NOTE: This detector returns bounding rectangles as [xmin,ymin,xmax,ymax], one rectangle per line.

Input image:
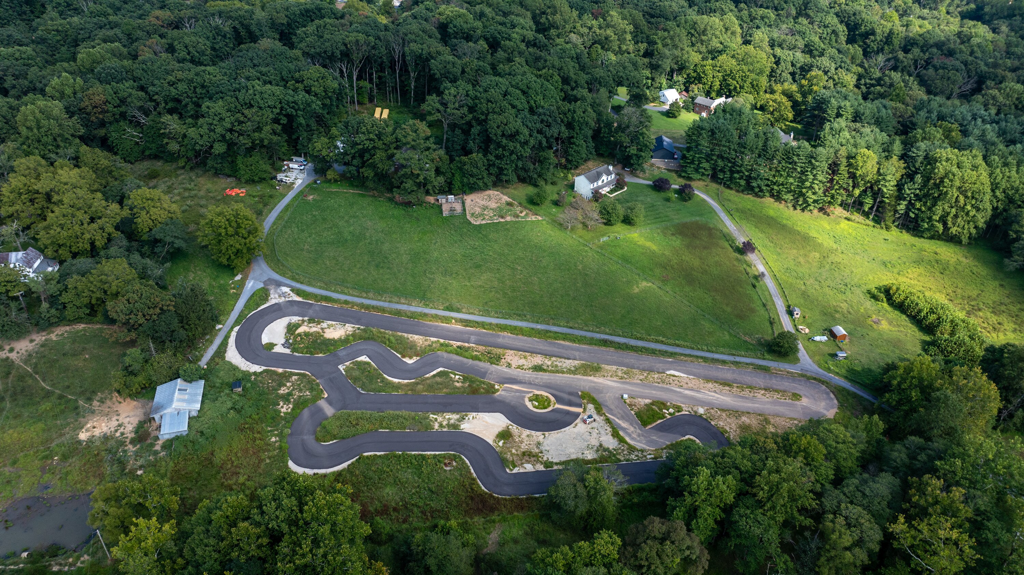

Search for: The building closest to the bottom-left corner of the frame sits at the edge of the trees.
[150,374,207,439]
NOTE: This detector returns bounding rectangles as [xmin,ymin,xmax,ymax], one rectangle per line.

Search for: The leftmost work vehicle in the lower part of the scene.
[582,410,597,423]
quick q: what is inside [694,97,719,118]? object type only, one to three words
house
